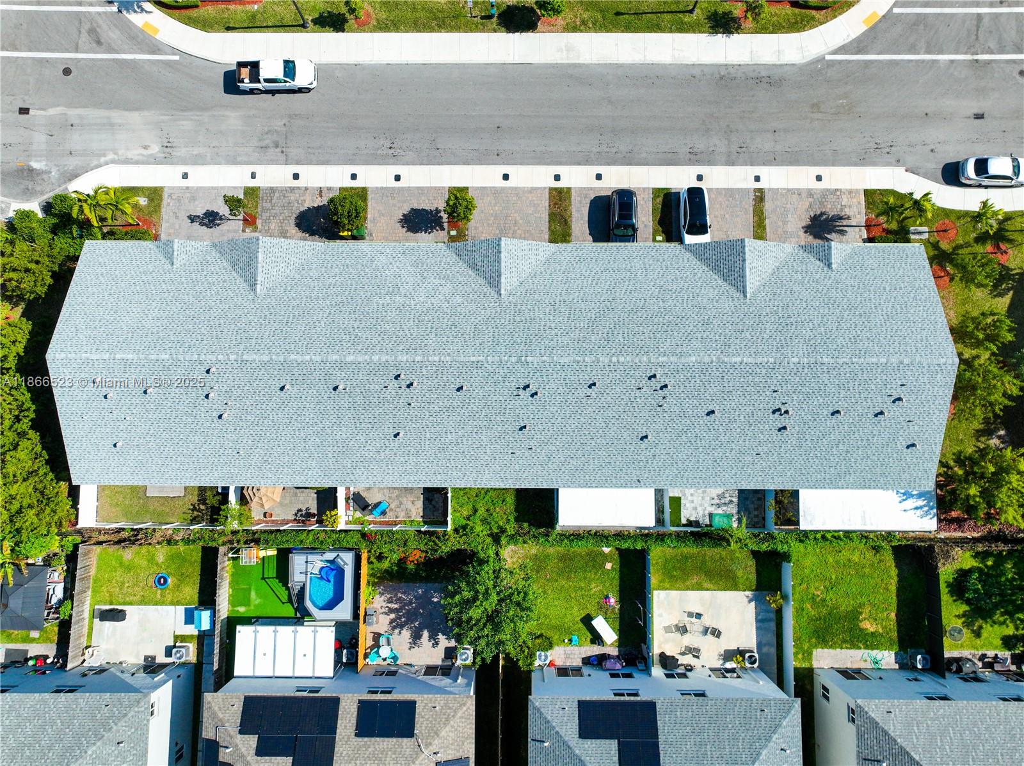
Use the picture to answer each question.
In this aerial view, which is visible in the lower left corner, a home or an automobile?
home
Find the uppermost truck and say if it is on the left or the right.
left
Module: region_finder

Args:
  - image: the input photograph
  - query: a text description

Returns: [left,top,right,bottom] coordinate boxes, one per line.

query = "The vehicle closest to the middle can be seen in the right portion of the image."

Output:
[608,194,641,241]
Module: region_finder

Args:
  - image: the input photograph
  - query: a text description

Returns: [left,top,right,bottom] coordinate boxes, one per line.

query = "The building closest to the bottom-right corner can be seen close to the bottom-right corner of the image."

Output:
[817,670,1024,766]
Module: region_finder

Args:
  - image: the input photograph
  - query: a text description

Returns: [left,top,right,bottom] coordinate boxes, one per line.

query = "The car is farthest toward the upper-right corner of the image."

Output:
[955,155,1024,186]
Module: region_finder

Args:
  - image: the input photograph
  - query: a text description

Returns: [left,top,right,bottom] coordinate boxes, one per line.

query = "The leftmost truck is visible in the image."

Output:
[235,57,319,94]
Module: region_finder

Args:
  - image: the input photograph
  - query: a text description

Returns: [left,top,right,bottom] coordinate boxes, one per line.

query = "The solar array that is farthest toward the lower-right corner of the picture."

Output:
[576,701,661,766]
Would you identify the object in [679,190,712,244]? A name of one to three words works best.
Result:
car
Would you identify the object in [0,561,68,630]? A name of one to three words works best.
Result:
gazebo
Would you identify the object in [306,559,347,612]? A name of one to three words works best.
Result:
swimming pool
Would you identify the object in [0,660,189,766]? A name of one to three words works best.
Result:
house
